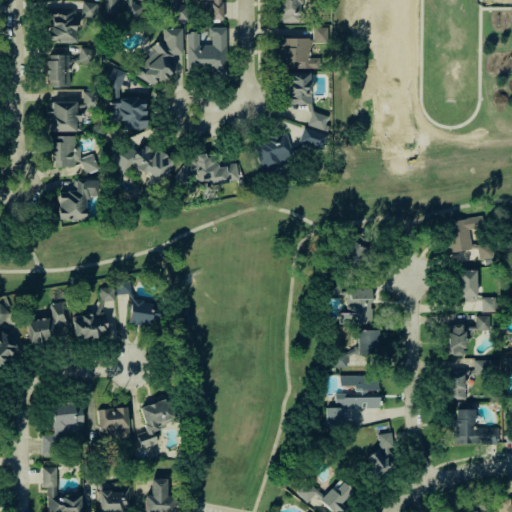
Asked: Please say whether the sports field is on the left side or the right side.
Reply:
right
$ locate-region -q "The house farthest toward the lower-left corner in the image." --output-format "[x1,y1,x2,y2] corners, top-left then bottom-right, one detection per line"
[42,468,84,512]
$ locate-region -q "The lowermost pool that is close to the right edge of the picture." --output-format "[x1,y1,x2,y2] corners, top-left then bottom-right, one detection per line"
[479,406,497,426]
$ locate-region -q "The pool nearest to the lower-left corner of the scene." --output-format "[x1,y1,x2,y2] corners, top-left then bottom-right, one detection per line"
[58,477,80,492]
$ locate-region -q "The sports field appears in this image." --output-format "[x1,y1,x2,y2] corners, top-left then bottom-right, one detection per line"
[420,0,482,128]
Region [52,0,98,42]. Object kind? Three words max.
house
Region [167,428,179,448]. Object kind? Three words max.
swimming pool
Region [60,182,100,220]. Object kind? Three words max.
house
